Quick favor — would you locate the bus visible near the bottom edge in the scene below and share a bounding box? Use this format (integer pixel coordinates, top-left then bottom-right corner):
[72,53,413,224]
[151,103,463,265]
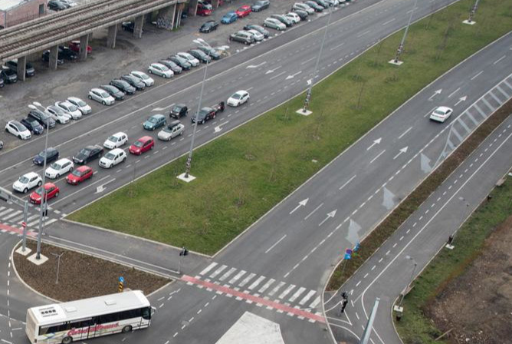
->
[28,288,163,344]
